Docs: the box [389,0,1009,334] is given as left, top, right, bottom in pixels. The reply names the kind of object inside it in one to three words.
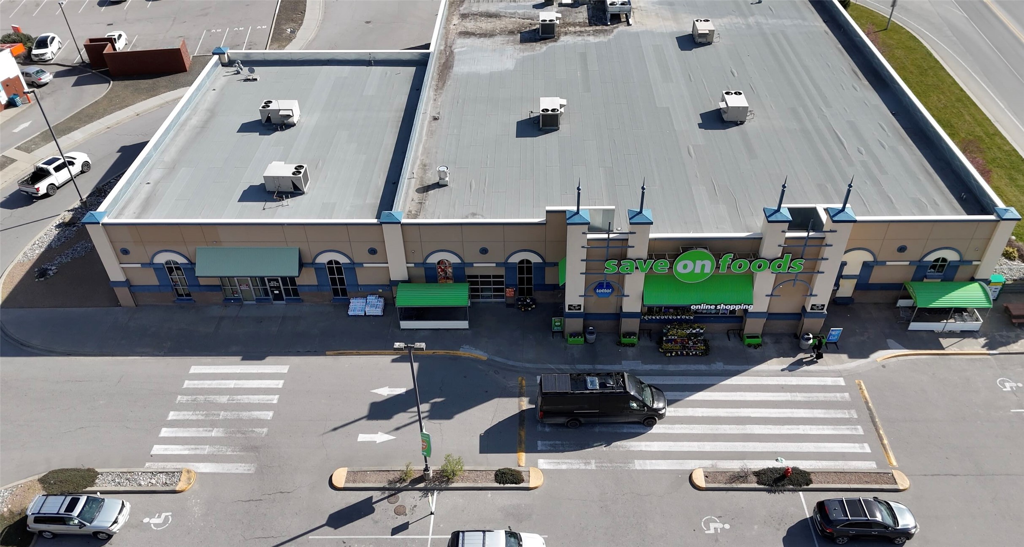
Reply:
building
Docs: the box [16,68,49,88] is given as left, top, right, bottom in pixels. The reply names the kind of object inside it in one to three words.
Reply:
car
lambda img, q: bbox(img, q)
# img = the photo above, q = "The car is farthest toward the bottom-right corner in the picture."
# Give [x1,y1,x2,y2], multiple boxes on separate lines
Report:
[816,493,925,544]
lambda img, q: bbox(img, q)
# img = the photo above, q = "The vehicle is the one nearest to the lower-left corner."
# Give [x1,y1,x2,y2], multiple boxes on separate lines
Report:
[19,492,128,540]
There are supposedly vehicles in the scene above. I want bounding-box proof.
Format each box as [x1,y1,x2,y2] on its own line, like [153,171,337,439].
[450,530,548,547]
[19,492,128,540]
[816,493,925,544]
[33,32,62,56]
[16,68,49,88]
[15,153,87,198]
[108,29,130,51]
[538,373,667,427]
